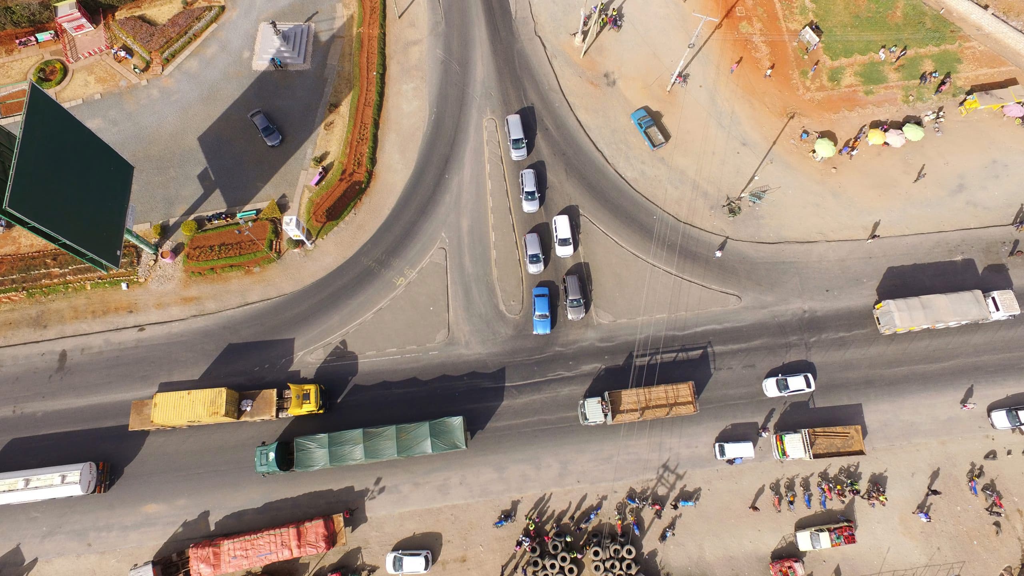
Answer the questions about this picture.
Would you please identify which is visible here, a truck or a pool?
truck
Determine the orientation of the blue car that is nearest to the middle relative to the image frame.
vertically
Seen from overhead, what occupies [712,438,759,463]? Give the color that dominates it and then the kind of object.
white vehicle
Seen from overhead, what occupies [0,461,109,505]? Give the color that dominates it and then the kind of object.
white truck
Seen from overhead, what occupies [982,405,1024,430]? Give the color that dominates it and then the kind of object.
white car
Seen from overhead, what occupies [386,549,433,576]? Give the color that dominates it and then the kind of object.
white car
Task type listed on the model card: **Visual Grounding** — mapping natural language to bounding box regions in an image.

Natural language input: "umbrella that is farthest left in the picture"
[813,139,832,159]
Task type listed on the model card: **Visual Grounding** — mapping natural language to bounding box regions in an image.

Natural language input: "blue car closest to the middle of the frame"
[531,287,554,335]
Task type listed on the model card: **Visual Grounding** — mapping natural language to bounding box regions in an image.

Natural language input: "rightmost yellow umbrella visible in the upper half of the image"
[864,130,883,147]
